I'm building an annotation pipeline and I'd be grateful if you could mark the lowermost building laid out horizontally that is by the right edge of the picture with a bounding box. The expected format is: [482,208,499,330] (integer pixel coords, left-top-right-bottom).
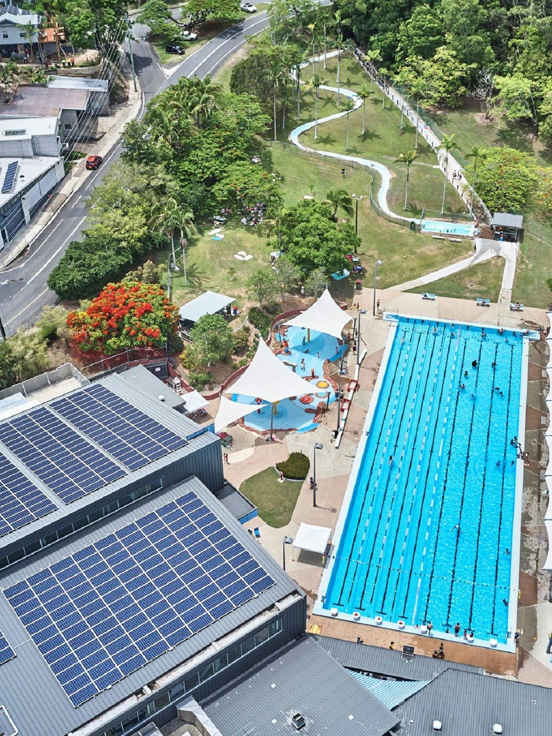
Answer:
[390,669,552,736]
